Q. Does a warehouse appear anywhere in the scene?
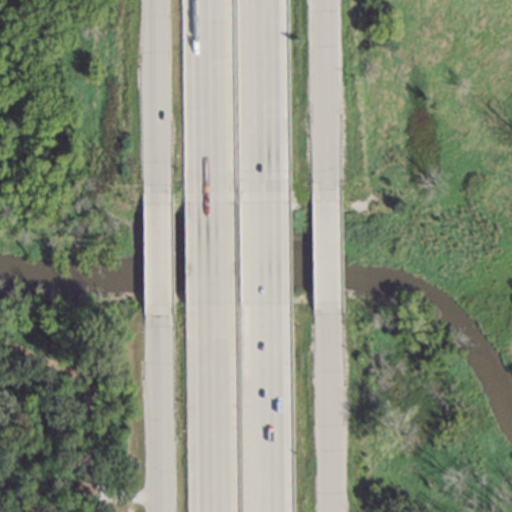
No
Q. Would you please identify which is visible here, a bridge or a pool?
bridge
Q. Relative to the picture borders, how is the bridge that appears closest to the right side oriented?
from top to bottom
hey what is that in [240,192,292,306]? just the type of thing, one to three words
bridge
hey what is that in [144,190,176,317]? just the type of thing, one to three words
bridge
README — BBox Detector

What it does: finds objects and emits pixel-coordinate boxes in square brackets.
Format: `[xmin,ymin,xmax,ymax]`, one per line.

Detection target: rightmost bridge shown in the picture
[312,191,344,311]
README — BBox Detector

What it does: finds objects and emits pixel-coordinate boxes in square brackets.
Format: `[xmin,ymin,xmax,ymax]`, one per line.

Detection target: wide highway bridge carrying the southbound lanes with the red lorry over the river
[184,192,236,306]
